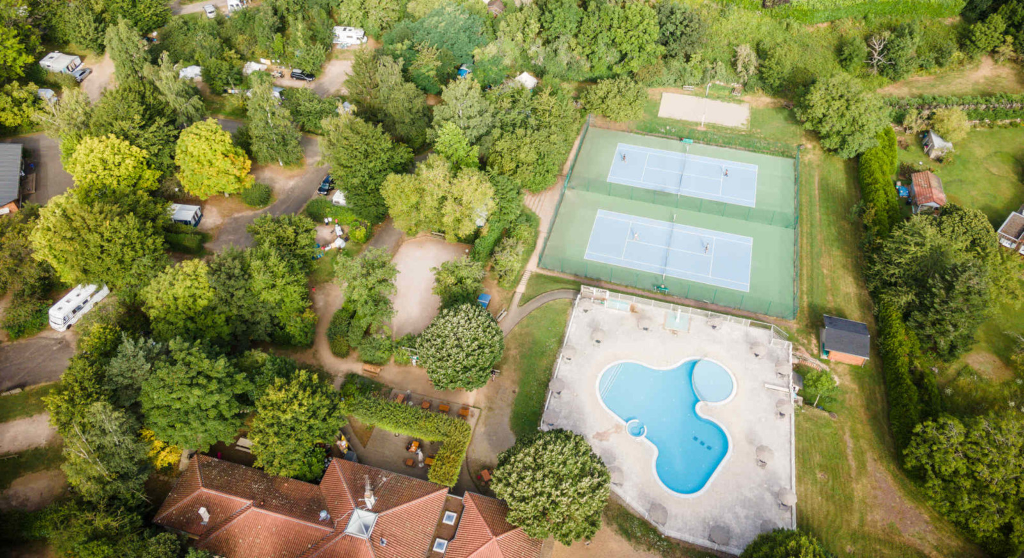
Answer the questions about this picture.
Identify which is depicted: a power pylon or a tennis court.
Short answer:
tennis court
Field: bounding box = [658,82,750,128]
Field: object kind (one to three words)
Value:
sports court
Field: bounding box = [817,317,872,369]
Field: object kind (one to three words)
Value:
shed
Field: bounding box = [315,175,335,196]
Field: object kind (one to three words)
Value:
car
